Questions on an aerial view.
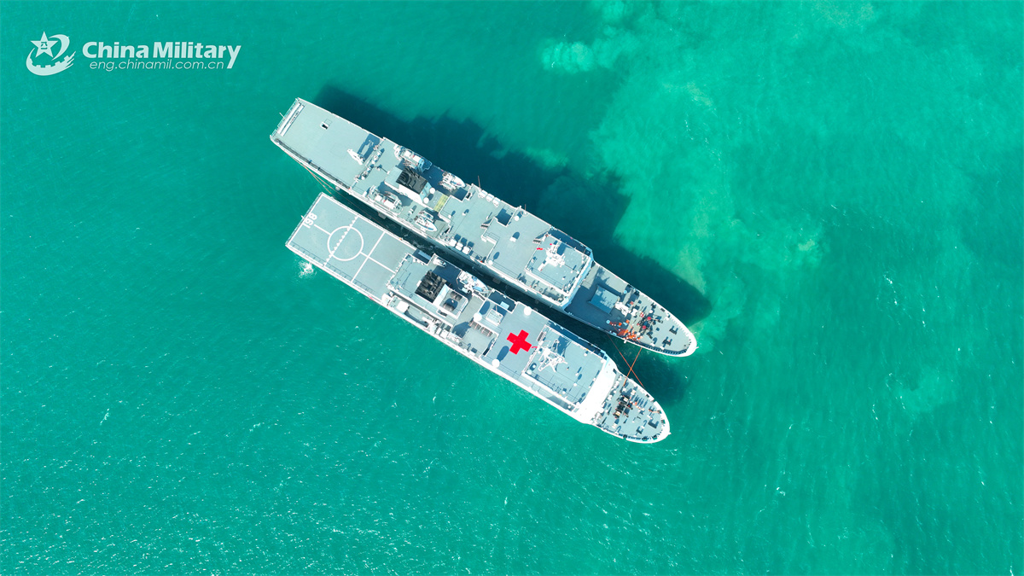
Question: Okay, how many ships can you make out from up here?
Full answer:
The photo contains 2 ships.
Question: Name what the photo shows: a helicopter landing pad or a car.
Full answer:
I can see a helicopter landing pad in this picture.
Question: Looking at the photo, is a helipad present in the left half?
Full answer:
Yes, I can see a helipad in the left half.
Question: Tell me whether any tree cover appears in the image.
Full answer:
No, the picture contains no tree cover.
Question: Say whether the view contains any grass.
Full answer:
No, the scene doesn't show any grass.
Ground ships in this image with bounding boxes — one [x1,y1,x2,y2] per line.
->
[269,99,698,357]
[282,193,671,444]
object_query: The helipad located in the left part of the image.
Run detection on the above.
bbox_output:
[287,195,413,301]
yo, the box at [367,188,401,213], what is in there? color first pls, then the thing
white boat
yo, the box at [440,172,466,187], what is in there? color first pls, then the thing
white boat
